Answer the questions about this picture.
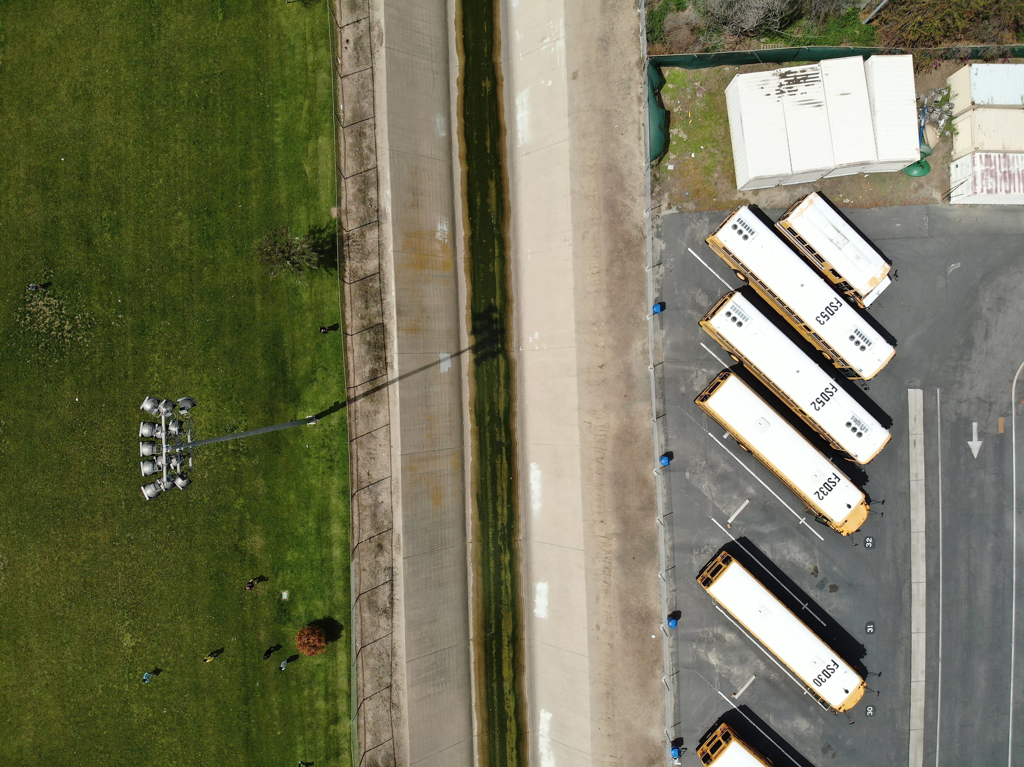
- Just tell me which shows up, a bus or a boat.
bus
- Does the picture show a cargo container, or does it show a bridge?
cargo container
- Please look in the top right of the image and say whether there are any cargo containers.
Yes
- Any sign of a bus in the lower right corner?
Yes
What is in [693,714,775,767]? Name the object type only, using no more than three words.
bus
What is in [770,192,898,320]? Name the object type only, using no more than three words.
bus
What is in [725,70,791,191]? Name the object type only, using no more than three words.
shipping container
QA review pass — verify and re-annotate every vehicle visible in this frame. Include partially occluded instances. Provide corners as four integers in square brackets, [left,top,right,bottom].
[692,545,882,725]
[702,208,896,394]
[694,293,890,474]
[691,370,883,546]
[693,714,775,767]
[770,192,898,320]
